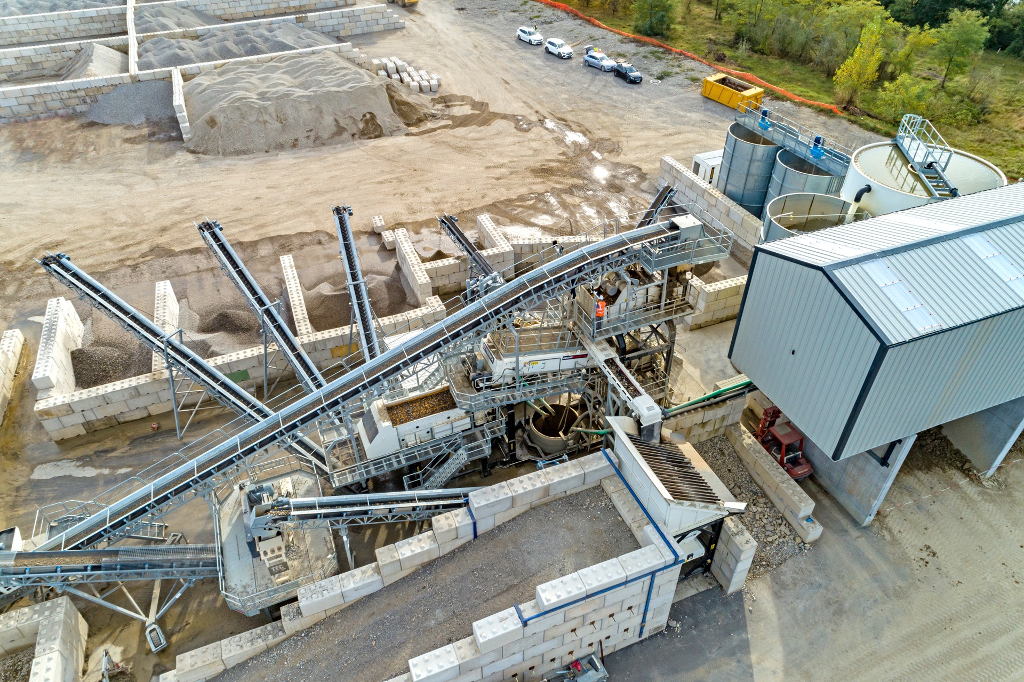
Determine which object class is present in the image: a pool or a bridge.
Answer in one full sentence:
I can see a bridge in this picture.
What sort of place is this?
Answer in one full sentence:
The picture captures an industrial area.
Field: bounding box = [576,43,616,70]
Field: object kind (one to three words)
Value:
car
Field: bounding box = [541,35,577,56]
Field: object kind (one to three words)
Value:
car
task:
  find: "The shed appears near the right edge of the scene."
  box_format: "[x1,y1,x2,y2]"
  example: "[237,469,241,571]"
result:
[727,183,1024,527]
